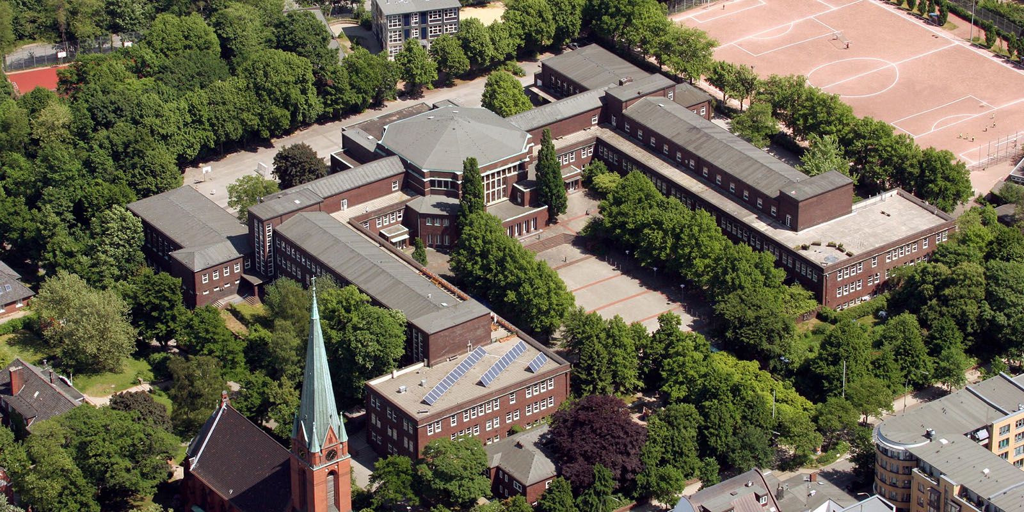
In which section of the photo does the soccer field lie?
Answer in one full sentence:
The soccer field is in the top right part of the image.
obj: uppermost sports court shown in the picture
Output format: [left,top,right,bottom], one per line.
[10,66,77,116]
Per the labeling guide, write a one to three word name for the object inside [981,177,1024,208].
shed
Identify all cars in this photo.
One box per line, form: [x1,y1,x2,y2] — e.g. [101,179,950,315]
[836,477,857,492]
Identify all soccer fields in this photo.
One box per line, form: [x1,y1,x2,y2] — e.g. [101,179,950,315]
[592,0,1024,194]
